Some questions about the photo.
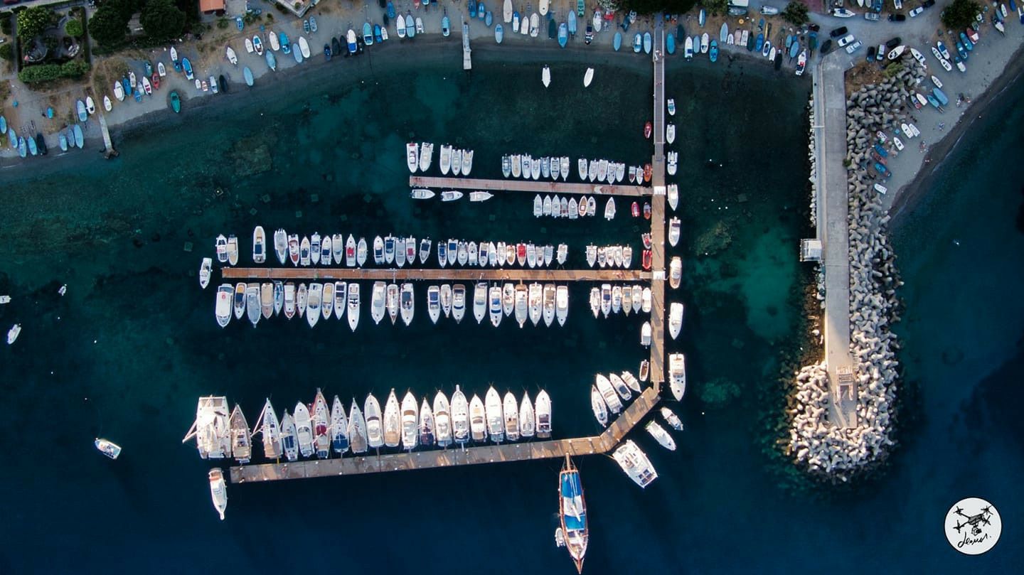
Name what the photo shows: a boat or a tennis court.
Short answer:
boat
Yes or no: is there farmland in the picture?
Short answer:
No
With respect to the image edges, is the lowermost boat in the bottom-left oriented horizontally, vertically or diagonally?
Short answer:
vertically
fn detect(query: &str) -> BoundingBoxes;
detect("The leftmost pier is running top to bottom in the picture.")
[99,114,119,159]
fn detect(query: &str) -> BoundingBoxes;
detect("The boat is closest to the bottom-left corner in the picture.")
[96,440,123,457]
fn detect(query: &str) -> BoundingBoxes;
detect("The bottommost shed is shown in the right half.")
[797,239,824,261]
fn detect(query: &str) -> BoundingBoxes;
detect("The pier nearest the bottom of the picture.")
[230,382,660,483]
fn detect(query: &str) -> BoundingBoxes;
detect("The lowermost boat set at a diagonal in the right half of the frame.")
[612,439,658,489]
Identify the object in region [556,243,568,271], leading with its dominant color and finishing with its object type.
white boat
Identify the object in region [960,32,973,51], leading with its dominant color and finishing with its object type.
blue boat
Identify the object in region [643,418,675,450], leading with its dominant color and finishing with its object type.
white boat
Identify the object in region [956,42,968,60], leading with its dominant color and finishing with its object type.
blue boat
